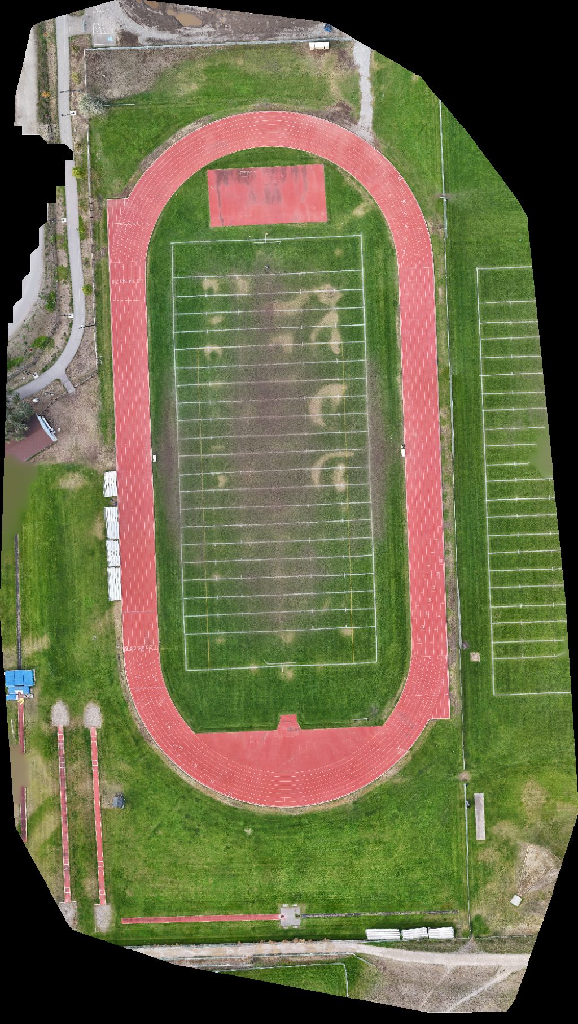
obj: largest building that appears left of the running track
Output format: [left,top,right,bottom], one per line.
[2,412,54,462]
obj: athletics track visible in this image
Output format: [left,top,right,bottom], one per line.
[107,110,450,808]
